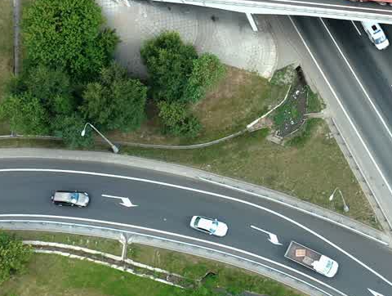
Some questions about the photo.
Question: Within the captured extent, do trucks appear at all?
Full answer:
Yes, there's a truck down there.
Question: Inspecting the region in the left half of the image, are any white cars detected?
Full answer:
Yes, you'll find a white car in the left half of the image.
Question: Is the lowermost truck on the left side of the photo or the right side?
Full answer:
You can find the lowermost truck on the right side of the picture.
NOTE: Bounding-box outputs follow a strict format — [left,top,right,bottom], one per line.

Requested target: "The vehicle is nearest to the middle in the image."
[188,214,230,237]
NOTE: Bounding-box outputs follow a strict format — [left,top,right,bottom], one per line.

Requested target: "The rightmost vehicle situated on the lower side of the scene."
[284,240,341,278]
